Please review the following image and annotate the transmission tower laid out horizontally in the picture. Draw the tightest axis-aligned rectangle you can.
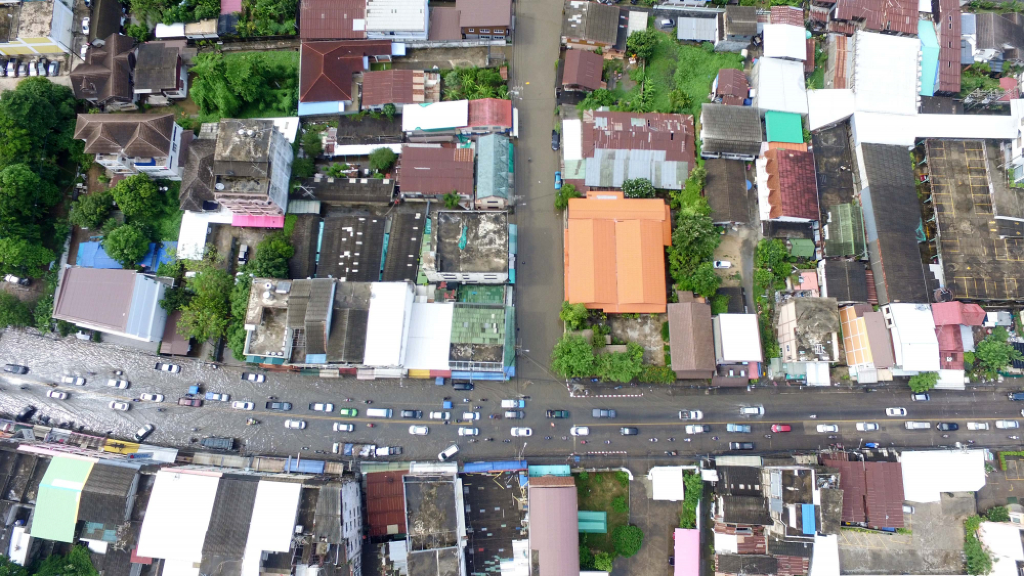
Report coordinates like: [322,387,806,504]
[963,87,1019,105]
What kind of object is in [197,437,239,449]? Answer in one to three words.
vehicle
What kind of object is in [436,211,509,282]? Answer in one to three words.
building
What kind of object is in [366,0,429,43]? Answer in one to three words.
house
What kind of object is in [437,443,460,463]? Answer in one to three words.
car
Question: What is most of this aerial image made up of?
buildings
